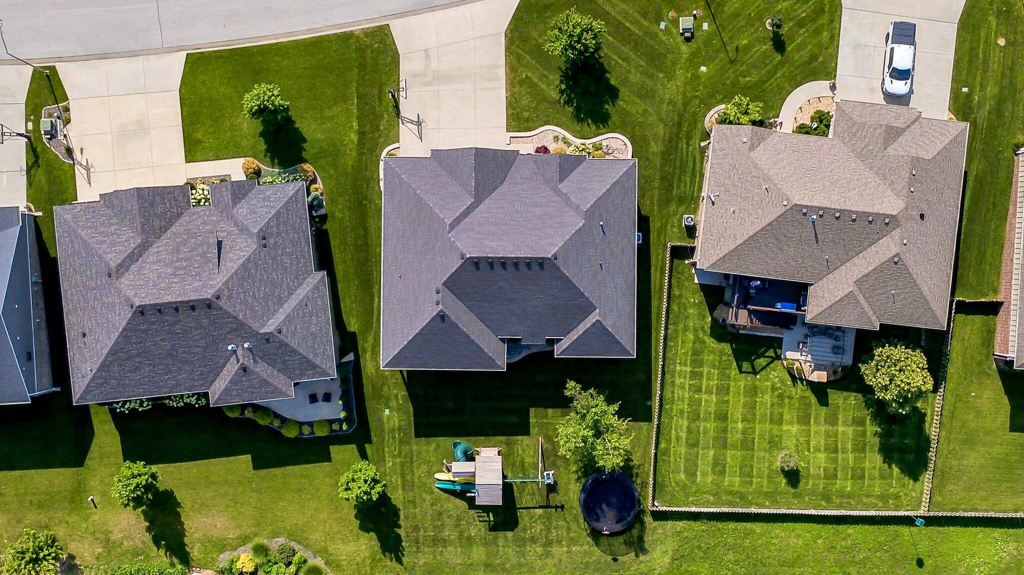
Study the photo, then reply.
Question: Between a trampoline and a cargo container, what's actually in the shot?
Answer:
trampoline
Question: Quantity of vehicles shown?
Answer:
1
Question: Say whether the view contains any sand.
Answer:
No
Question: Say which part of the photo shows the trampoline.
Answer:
bottom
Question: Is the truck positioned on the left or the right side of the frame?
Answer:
right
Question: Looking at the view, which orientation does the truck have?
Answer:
vertically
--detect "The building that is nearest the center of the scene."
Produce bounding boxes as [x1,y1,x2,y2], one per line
[380,146,638,371]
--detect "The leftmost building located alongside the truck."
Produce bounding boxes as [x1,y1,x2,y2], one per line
[681,98,972,332]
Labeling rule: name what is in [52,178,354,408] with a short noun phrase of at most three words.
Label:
house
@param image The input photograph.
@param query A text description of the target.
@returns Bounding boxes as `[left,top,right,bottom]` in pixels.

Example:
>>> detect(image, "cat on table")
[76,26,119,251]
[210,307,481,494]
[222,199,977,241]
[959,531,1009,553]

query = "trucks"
[882,20,919,97]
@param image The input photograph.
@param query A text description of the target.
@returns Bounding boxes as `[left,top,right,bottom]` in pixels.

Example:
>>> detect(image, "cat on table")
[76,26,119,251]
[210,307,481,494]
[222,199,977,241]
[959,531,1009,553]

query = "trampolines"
[579,470,641,536]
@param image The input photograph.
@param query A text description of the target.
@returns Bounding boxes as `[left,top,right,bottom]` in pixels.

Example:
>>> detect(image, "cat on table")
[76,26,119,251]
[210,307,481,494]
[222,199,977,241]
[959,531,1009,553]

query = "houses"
[52,178,354,408]
[990,151,1024,363]
[0,208,65,405]
[380,146,638,371]
[681,98,972,332]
